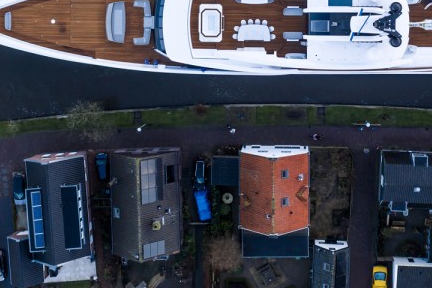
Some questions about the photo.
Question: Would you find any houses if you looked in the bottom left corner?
Yes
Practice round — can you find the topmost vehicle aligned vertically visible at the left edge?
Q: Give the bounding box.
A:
[11,173,27,206]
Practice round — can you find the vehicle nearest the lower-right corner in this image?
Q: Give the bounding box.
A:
[373,262,390,288]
